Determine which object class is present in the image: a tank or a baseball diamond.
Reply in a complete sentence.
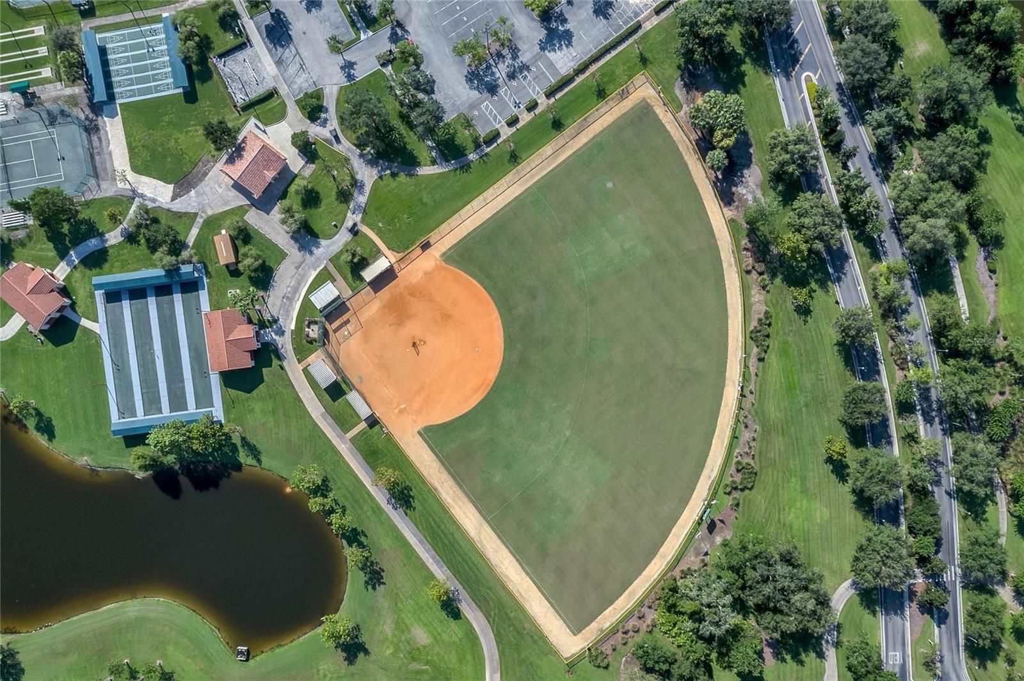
I can see a baseball diamond in this picture.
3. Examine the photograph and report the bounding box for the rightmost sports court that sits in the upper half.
[213,42,276,105]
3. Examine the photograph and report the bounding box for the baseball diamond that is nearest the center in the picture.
[324,74,741,659]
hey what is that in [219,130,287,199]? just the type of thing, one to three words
building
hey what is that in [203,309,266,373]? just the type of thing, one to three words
building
